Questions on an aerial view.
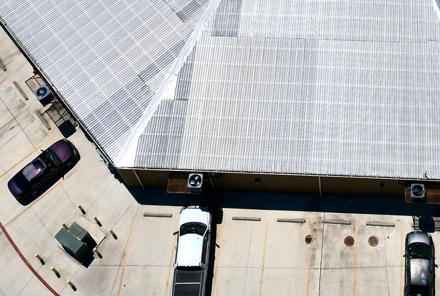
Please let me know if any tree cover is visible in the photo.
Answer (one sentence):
No, the scene doesn't show any tree cover.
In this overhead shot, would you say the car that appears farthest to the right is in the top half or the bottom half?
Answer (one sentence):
It is in the bottom half that the car that appears farthest to the right appears.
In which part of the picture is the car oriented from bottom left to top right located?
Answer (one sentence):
The car oriented from bottom left to top right is in the left part of the image.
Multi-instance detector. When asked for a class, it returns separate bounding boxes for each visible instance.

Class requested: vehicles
[402,233,438,296]
[7,142,80,202]
[172,205,212,296]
